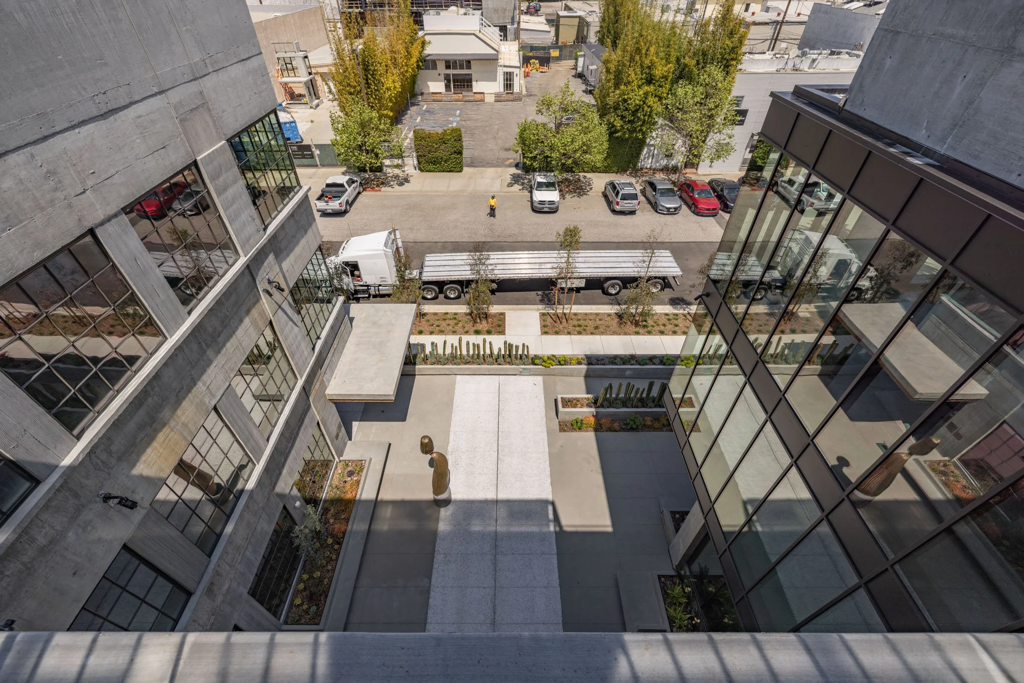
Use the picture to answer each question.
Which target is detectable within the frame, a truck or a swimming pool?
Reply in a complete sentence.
There is a truck in the scene.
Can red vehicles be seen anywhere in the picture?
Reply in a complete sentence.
Yes, there is a red vehicle in the image.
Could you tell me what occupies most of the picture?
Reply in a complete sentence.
The scene is dominated by buildings.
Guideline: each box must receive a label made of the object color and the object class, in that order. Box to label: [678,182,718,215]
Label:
red car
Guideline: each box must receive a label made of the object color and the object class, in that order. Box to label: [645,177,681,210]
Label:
gray car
